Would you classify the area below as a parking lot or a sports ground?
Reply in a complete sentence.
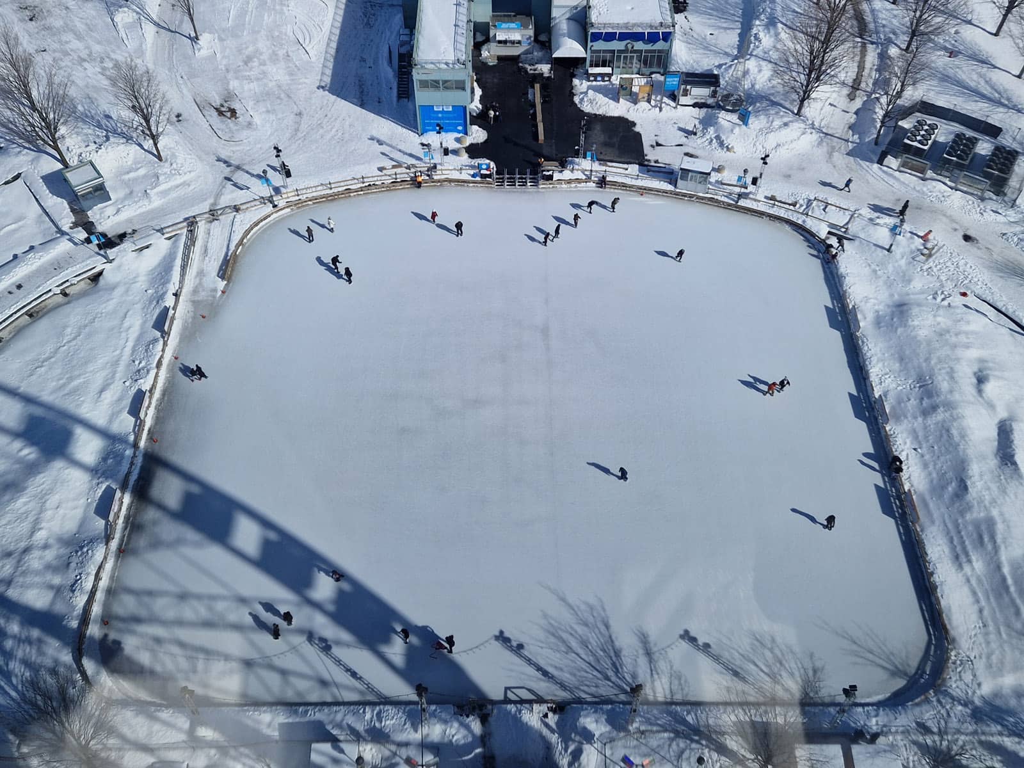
What you see here is a sports ground.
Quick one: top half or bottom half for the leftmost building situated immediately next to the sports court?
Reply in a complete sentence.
The leftmost building situated immediately next to the sports court sits in the top half of the picture.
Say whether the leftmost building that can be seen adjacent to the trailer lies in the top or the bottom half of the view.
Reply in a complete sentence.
The leftmost building that can be seen adjacent to the trailer is in the top half of the image.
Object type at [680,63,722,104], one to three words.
trailer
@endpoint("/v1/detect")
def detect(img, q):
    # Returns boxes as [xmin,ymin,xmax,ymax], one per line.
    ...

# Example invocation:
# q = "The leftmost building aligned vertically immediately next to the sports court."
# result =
[411,0,474,135]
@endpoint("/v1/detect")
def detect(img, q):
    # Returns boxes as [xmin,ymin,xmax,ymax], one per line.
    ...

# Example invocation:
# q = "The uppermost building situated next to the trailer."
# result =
[584,0,673,73]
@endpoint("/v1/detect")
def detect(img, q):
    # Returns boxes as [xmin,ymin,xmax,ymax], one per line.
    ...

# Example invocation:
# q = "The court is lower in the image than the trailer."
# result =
[99,182,939,704]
